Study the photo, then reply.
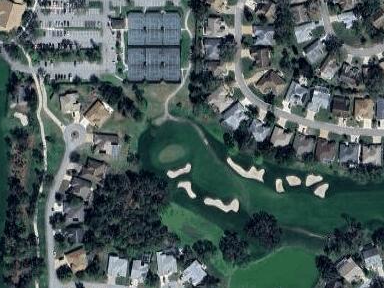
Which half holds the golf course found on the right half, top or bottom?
bottom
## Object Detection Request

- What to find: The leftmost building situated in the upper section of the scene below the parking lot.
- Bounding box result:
[59,91,80,112]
